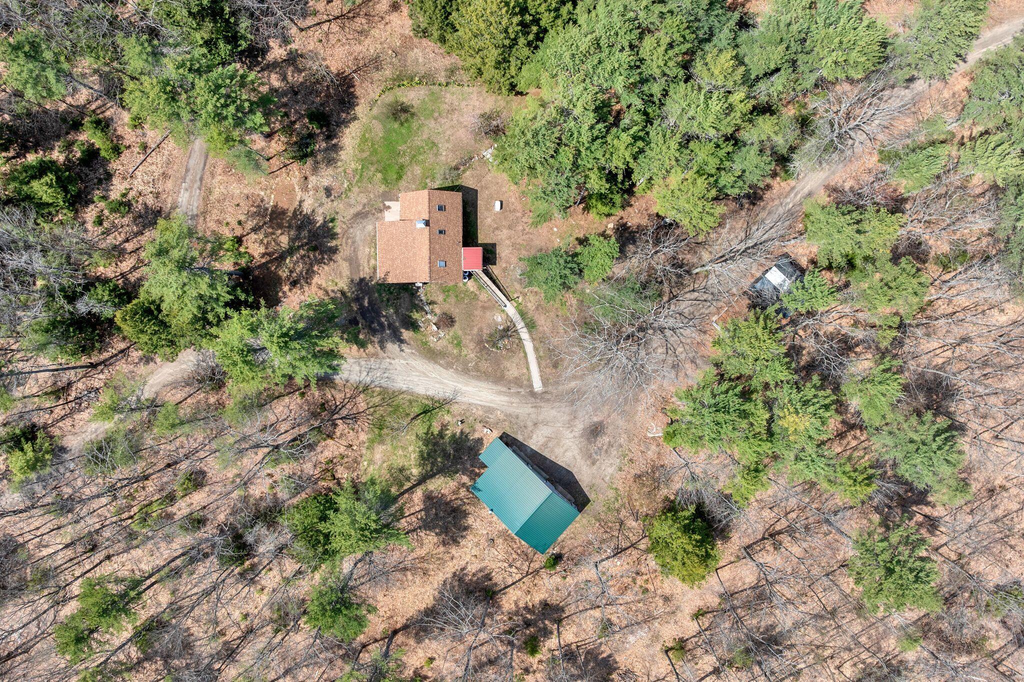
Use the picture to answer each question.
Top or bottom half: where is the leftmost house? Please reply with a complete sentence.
The top half of the photo is where the leftmost house is.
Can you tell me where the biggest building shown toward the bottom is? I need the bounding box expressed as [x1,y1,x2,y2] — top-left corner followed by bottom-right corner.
[470,438,579,555]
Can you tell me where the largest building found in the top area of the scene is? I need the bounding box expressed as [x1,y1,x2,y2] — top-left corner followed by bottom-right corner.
[377,188,483,284]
